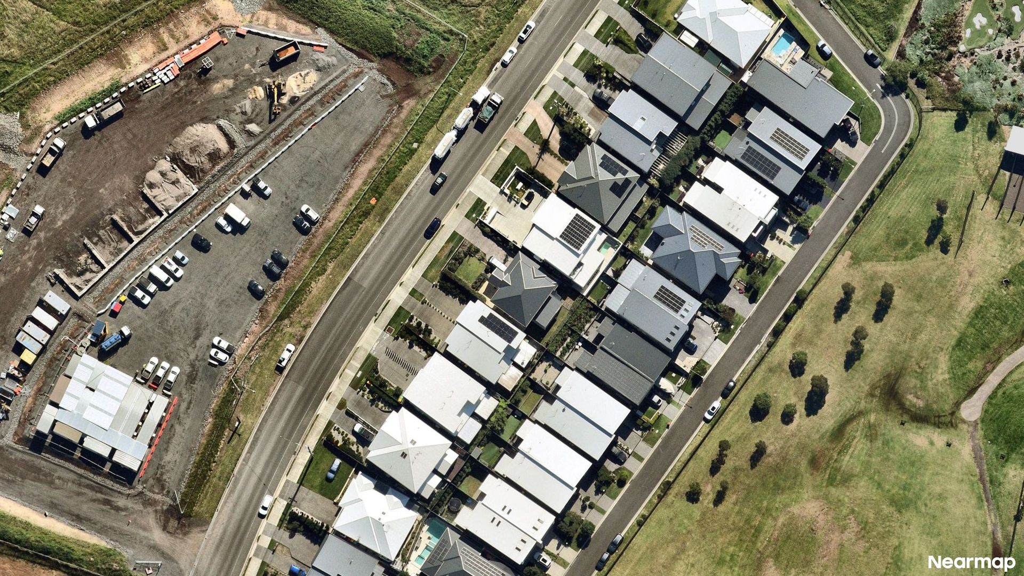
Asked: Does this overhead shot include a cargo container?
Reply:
Yes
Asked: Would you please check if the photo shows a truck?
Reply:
Yes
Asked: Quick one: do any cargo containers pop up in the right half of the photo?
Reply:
No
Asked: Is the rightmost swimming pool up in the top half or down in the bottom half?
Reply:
top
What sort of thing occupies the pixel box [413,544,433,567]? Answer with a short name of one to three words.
swimming pool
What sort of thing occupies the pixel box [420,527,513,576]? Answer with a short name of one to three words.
house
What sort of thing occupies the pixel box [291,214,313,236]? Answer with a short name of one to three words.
car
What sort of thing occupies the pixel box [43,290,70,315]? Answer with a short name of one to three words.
shipping container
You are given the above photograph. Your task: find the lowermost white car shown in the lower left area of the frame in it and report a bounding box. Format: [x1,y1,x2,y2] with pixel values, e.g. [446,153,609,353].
[258,494,274,518]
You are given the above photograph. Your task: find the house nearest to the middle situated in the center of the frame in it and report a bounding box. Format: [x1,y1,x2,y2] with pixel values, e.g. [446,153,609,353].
[488,251,563,330]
